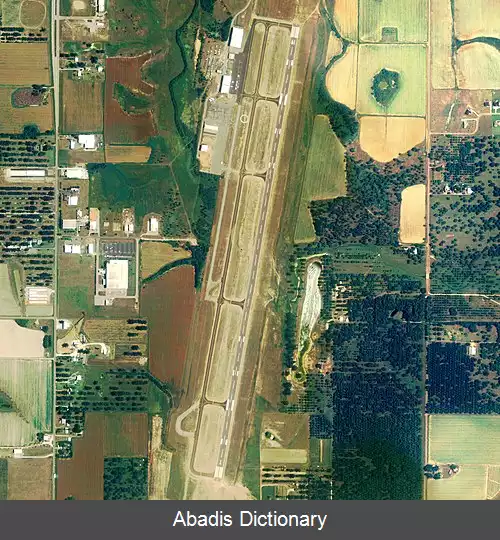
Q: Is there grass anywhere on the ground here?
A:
Yes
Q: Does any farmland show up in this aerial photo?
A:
Yes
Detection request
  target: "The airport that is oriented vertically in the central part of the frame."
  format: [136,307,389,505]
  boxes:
[173,12,304,540]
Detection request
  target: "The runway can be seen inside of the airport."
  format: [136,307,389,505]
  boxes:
[214,22,300,482]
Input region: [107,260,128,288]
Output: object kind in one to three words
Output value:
building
